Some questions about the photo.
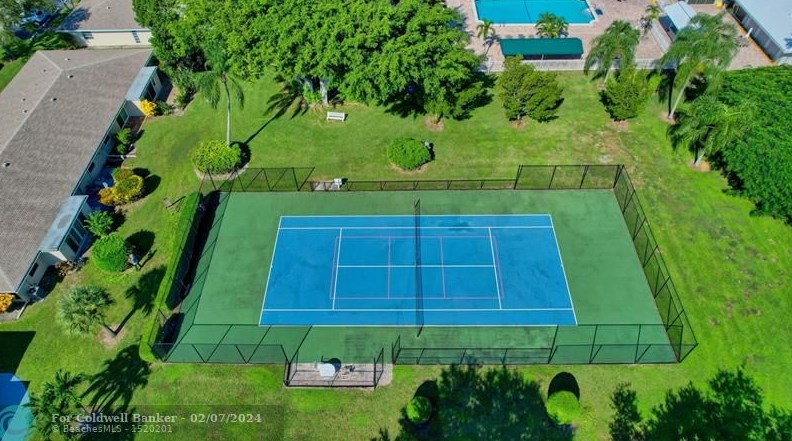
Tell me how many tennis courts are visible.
1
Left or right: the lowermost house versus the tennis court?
to the left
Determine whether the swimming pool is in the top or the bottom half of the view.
top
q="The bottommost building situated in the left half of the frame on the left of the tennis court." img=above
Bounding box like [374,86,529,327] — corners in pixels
[0,49,163,304]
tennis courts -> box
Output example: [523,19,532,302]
[172,189,675,361]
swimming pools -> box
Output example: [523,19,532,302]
[474,0,599,23]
